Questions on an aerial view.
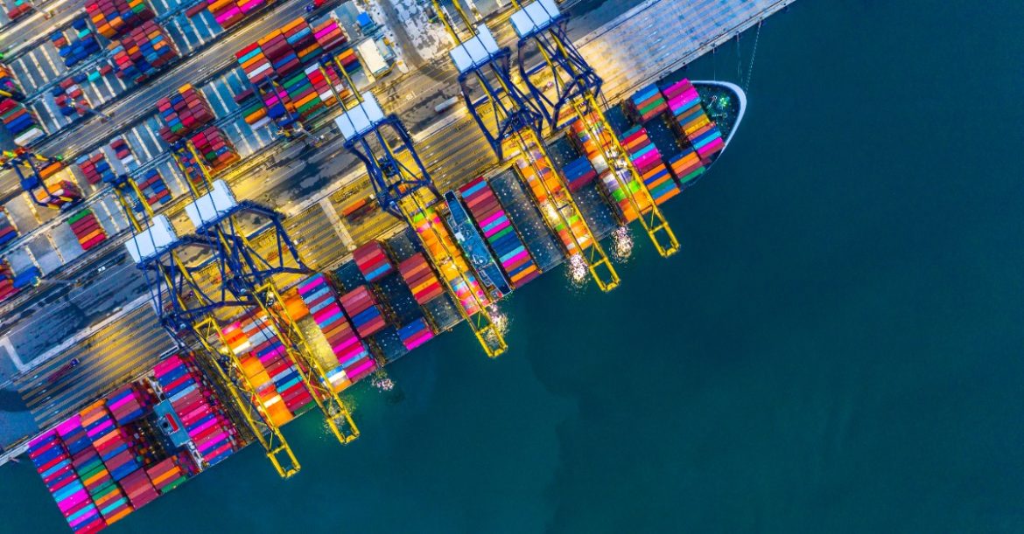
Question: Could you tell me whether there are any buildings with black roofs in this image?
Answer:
No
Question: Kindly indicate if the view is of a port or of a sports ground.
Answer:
port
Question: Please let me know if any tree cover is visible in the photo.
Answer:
No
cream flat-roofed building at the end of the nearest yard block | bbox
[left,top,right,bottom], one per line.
[357,39,390,78]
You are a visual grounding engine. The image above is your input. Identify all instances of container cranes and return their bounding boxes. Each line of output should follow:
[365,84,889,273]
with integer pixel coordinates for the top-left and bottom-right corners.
[109,165,305,482]
[12,152,96,216]
[429,0,623,295]
[251,75,317,143]
[314,45,510,361]
[166,132,363,448]
[510,0,683,259]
